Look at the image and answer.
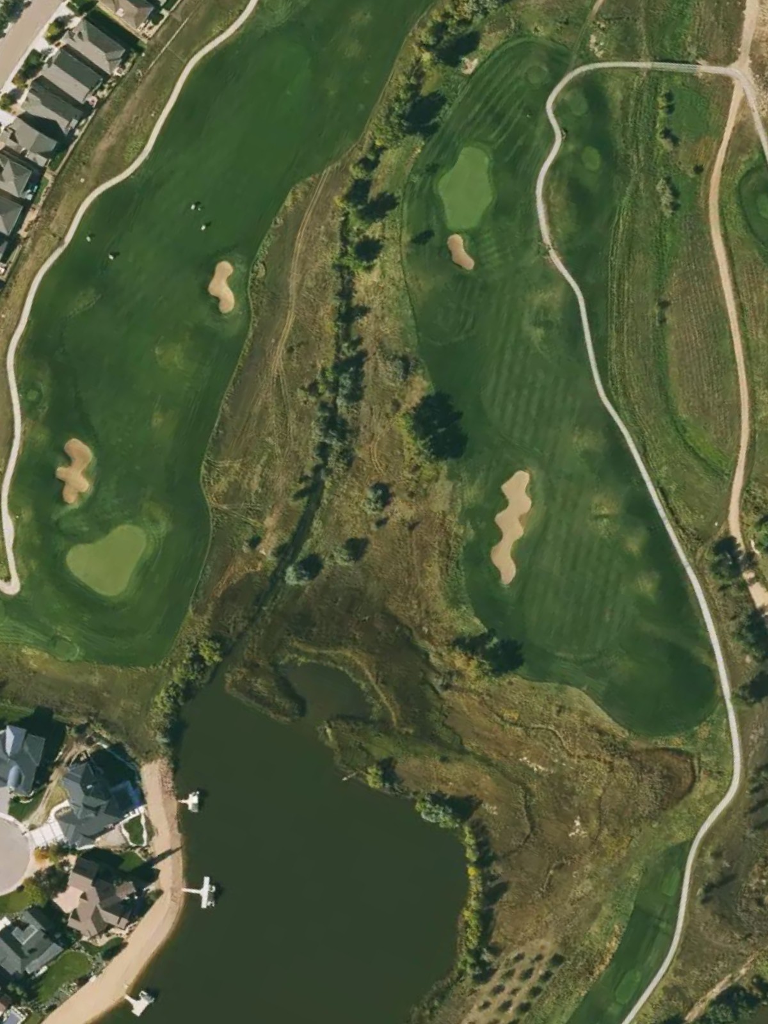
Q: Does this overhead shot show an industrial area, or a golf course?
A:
golf course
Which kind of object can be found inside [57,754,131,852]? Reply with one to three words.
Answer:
house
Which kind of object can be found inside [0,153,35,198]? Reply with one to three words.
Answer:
house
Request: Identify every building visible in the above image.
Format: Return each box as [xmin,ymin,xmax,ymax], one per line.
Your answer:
[38,50,101,103]
[97,0,150,27]
[0,724,45,795]
[62,19,125,77]
[0,115,59,168]
[0,153,35,198]
[0,194,24,235]
[0,232,13,260]
[0,915,65,981]
[64,856,136,938]
[57,754,131,852]
[18,86,82,136]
